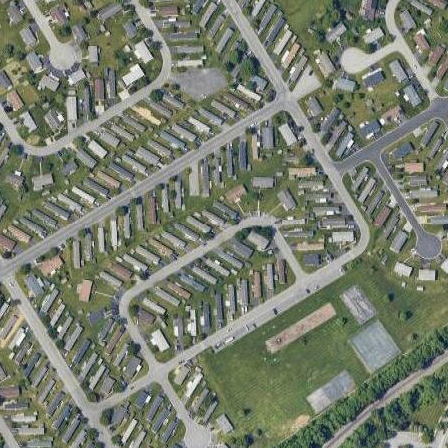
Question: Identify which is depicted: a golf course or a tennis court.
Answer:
tennis court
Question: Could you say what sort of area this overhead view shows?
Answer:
residential area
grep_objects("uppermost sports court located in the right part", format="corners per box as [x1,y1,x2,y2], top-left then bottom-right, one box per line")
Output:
[341,287,376,325]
